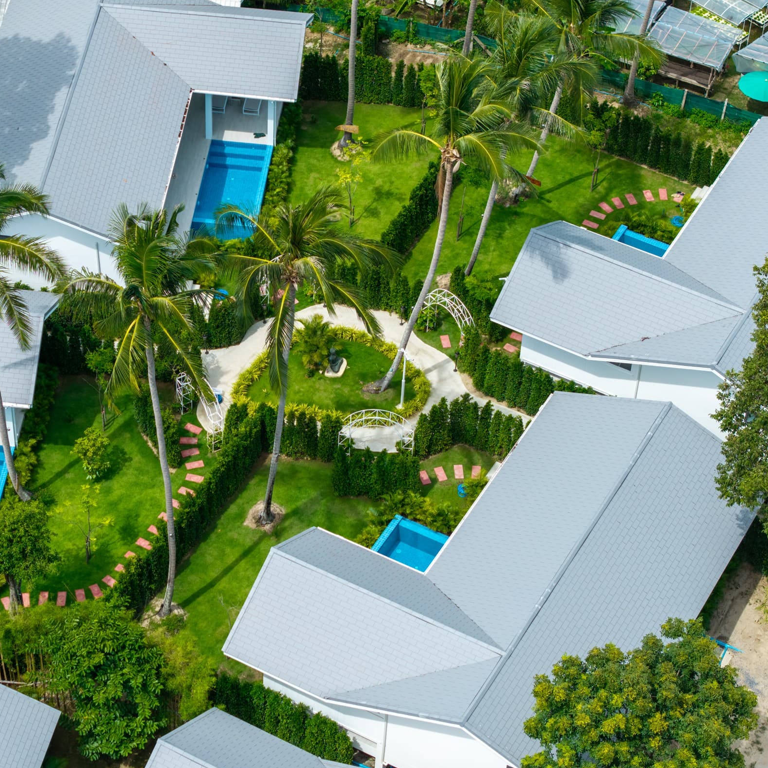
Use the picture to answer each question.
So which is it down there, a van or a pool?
pool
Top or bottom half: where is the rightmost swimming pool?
top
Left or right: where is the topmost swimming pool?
left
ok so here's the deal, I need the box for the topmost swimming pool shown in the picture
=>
[192,143,265,223]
